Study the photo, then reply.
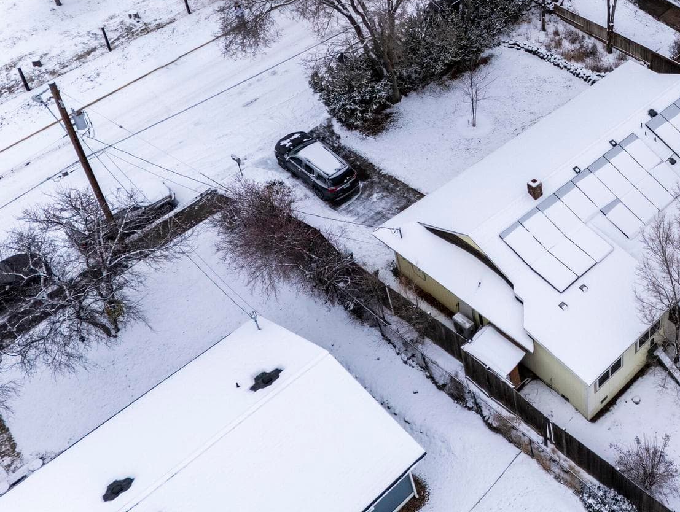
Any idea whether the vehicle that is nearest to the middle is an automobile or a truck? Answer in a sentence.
I'd identify the vehicle that is nearest to the middle as an automobile.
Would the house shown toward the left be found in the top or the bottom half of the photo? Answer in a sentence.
The bottom half of the photo is where the house shown toward the left is.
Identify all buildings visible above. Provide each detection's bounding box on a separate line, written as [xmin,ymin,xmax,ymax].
[0,310,422,512]
[371,59,680,421]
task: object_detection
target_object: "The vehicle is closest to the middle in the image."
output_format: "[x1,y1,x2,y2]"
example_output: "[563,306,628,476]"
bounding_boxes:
[275,133,365,202]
